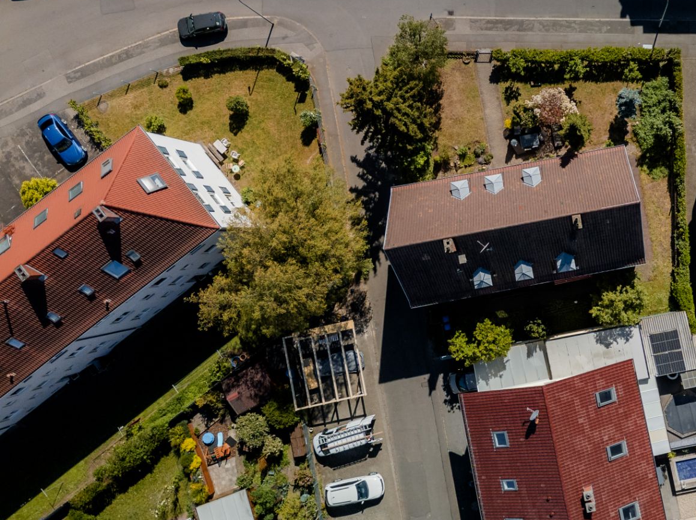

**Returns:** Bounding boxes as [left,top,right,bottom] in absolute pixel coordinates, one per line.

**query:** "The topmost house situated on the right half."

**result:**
[383,144,645,308]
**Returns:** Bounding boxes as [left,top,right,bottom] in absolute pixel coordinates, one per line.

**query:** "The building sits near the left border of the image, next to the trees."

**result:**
[0,125,259,412]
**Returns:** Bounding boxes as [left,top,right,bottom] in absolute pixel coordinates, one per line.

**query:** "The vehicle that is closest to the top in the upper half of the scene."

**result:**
[173,12,225,38]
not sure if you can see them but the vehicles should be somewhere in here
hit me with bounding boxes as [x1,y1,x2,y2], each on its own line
[449,374,478,397]
[33,115,83,168]
[173,12,225,38]
[312,421,381,459]
[322,475,383,508]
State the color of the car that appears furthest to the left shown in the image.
blue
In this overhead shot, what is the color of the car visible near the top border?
black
